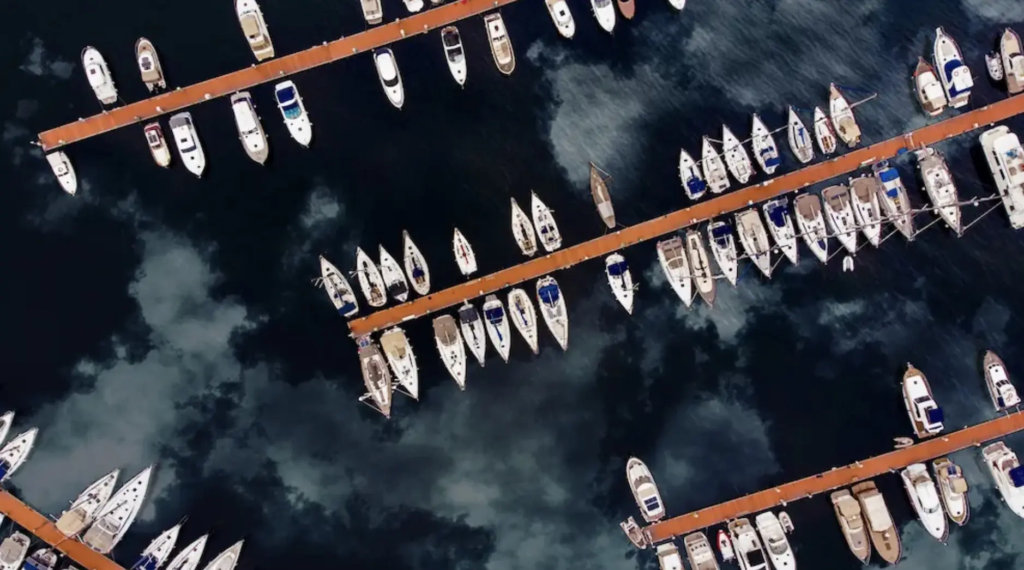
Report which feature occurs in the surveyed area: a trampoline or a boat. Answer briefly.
boat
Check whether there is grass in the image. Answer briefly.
No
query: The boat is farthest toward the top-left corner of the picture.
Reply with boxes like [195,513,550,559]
[84,44,118,106]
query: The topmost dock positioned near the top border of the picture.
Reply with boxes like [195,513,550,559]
[39,0,522,151]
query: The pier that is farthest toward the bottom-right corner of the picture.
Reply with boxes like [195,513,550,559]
[644,410,1024,543]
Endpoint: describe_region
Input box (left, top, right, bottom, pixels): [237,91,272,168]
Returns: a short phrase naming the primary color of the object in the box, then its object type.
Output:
white boat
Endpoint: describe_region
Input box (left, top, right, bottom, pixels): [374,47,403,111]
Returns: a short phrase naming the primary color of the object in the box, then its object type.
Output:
white boat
